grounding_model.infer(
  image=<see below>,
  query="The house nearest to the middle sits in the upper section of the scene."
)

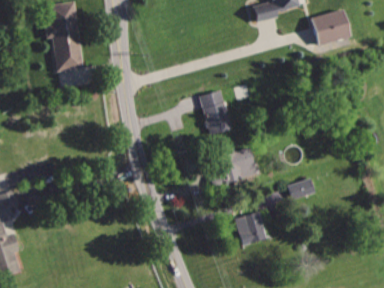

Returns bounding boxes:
[198,86,230,134]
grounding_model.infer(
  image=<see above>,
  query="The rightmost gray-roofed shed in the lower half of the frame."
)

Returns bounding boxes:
[288,179,315,200]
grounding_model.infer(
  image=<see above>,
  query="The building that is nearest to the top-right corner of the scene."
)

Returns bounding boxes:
[312,10,352,45]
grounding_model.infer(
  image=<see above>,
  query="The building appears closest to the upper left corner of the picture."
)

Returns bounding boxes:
[45,0,84,72]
